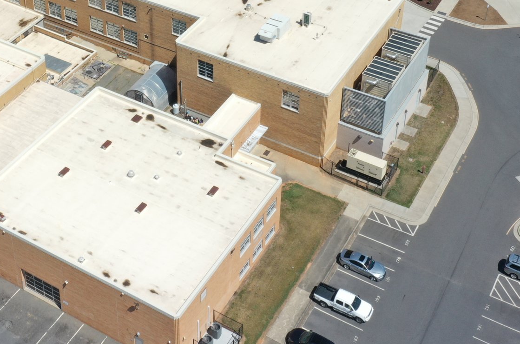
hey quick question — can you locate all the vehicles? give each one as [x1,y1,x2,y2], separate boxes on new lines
[285,326,338,344]
[336,250,388,285]
[308,283,374,328]
[504,257,520,285]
